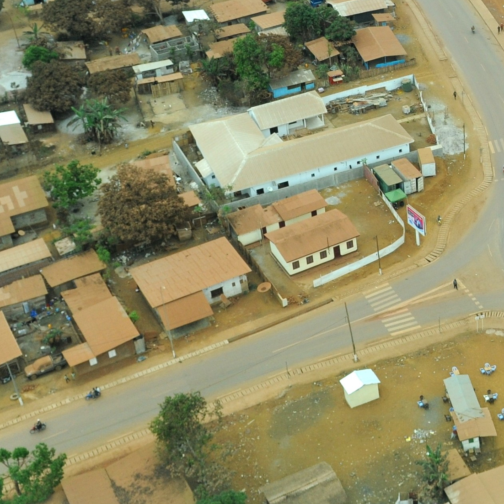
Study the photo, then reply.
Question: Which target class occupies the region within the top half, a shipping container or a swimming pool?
shipping container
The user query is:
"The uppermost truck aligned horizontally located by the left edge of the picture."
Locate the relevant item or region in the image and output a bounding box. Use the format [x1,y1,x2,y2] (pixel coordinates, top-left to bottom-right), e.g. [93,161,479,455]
[24,355,67,378]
